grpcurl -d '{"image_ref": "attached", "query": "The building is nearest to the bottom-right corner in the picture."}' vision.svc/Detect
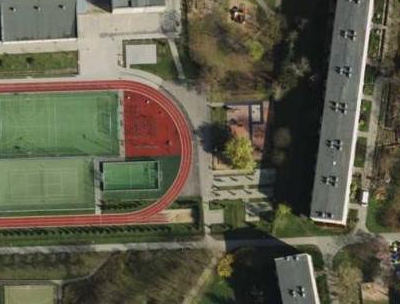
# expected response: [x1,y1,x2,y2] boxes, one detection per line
[275,252,323,304]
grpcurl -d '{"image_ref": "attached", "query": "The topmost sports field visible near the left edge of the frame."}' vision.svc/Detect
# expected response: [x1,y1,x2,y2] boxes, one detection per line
[0,91,117,158]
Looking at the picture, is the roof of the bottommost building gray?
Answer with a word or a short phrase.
Yes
